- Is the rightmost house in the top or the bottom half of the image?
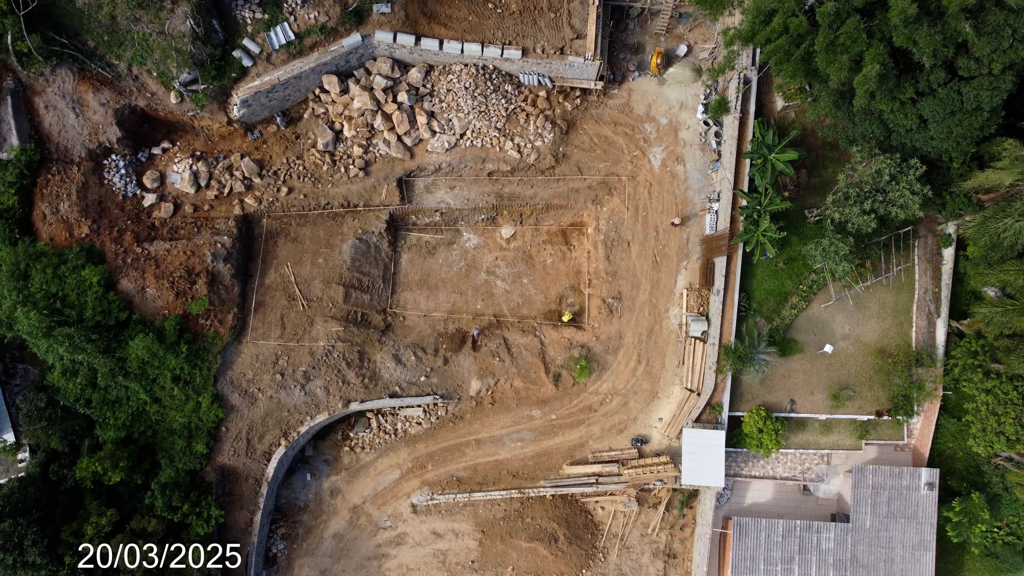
bottom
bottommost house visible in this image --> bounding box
[718,458,940,576]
